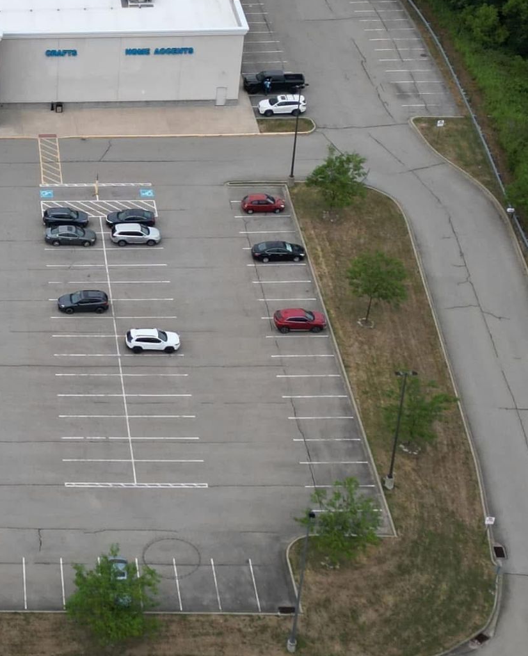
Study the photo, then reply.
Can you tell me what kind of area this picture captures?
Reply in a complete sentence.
The picture captures a parking lot.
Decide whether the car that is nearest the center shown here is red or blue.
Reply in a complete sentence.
In this view, the car that is nearest the center is red.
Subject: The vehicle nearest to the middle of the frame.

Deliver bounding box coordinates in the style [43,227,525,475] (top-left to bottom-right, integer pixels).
[270,308,326,333]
